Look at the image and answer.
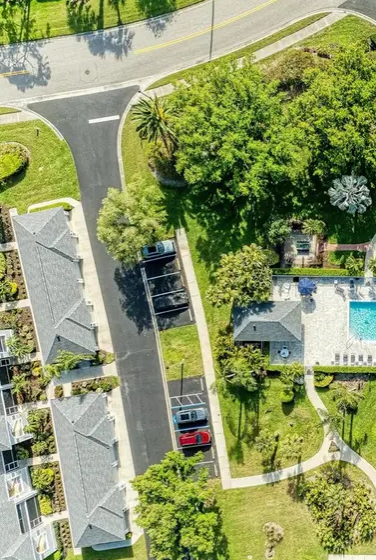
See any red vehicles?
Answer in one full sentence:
Yes, the photo shows a red vehicle.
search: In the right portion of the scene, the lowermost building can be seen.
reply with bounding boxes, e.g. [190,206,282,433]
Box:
[233,300,303,341]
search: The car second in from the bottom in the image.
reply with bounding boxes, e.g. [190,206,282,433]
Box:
[175,407,208,423]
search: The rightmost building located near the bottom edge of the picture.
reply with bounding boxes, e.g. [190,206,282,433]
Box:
[52,392,134,547]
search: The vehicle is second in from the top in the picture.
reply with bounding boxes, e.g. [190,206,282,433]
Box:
[155,295,189,312]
